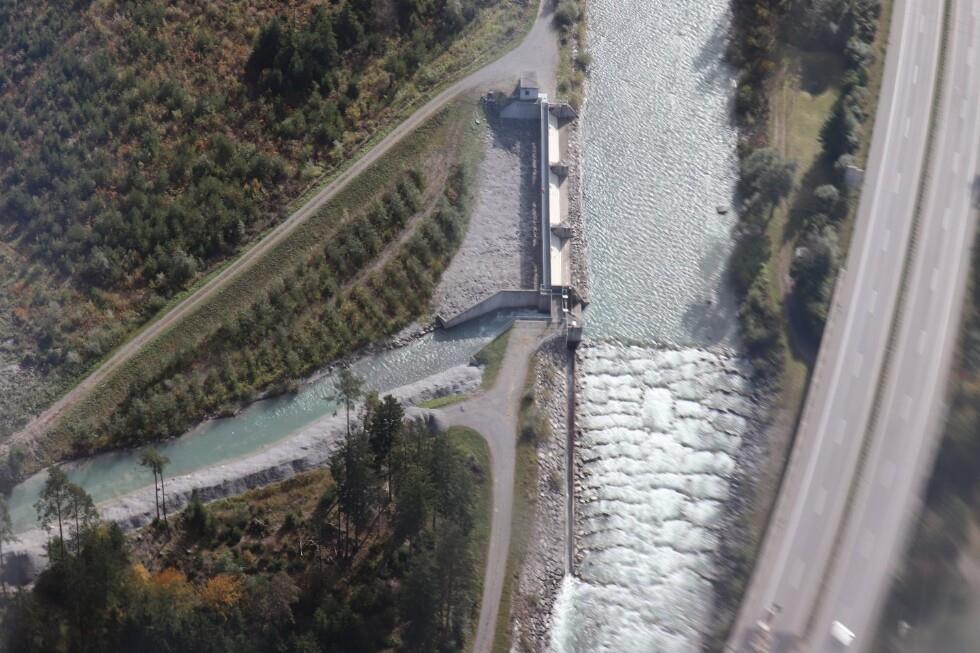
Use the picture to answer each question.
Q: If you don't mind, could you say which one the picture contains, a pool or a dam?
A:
dam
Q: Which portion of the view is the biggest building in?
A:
top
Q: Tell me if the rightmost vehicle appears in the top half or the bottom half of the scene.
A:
bottom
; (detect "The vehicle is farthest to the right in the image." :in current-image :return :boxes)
[834,621,855,653]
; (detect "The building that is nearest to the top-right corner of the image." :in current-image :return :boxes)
[519,76,539,101]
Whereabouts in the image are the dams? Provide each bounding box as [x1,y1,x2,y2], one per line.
[503,90,578,293]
